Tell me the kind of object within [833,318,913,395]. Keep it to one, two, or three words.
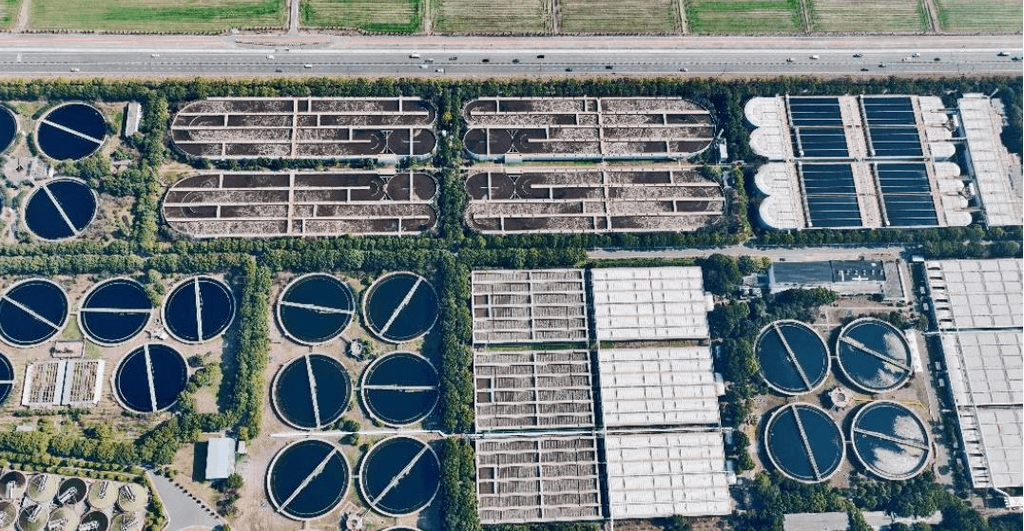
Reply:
storage tank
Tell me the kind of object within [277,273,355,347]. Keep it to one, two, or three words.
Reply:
storage tank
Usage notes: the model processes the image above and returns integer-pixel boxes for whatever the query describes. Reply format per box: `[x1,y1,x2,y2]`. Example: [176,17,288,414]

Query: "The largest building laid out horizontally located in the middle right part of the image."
[767,261,886,296]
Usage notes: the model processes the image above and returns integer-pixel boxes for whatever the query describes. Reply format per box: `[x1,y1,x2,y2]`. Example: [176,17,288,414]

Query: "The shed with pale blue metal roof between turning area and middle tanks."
[206,438,237,480]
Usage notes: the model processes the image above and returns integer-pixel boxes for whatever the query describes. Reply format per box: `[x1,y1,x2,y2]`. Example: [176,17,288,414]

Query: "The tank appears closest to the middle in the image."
[363,271,440,345]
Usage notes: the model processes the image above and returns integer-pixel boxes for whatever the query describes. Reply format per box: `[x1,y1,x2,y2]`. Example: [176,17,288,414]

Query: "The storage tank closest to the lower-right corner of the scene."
[849,400,932,482]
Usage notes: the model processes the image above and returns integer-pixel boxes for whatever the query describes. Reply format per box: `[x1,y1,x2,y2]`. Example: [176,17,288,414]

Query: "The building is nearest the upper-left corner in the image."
[125,102,141,139]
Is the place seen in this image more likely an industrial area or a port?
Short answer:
industrial area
